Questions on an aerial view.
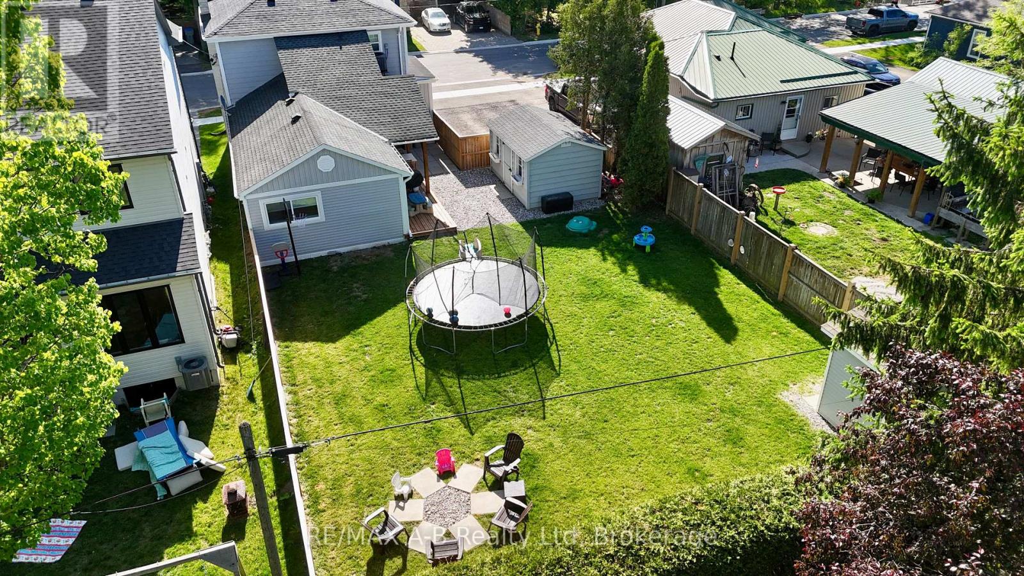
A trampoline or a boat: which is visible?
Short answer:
trampoline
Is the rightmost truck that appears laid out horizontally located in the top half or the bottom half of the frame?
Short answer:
top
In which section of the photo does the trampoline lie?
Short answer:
center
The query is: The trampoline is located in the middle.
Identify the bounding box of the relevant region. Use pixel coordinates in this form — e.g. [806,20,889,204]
[399,212,544,356]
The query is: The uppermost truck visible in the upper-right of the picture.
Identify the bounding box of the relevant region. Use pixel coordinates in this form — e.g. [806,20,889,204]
[843,0,925,34]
